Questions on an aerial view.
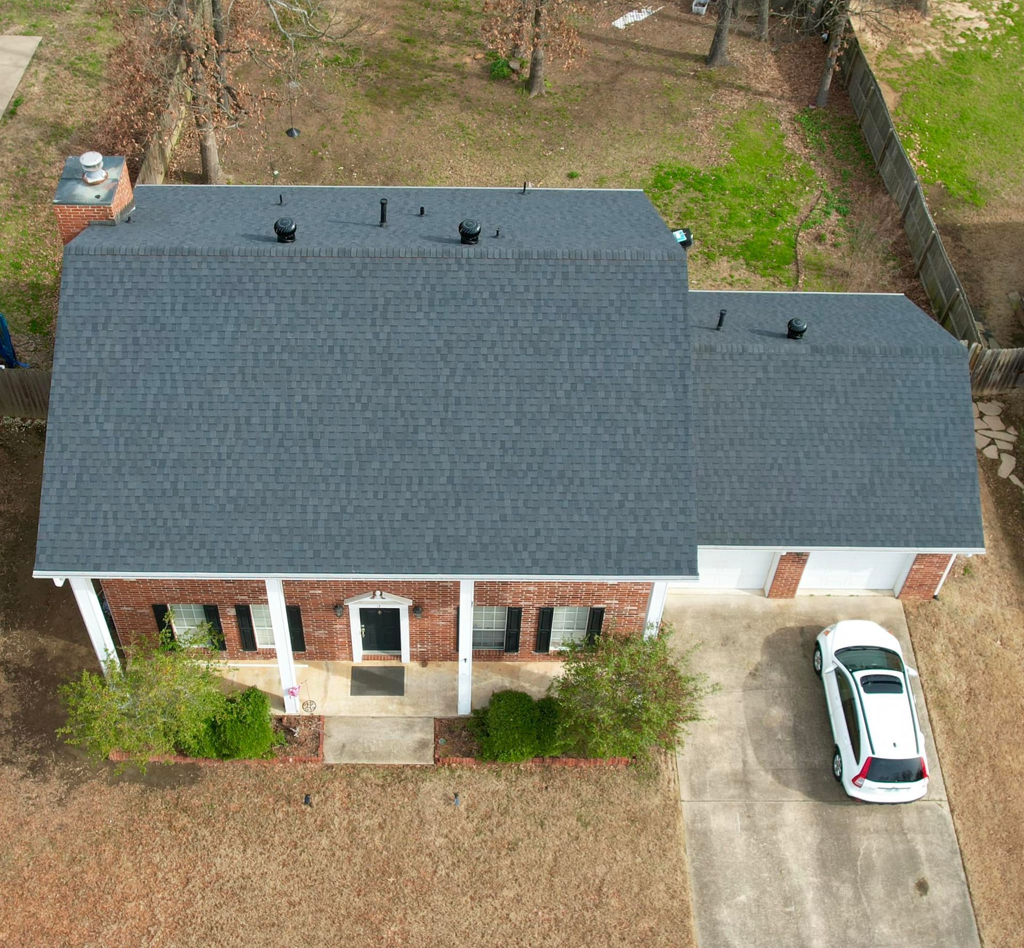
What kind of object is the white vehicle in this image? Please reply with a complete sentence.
What you see as the white vehicle is an automobile.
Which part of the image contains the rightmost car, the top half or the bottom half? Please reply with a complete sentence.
The rightmost car sits in the bottom half of the picture.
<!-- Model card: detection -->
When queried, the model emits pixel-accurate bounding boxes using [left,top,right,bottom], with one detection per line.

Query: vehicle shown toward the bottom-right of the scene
[813,616,936,807]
